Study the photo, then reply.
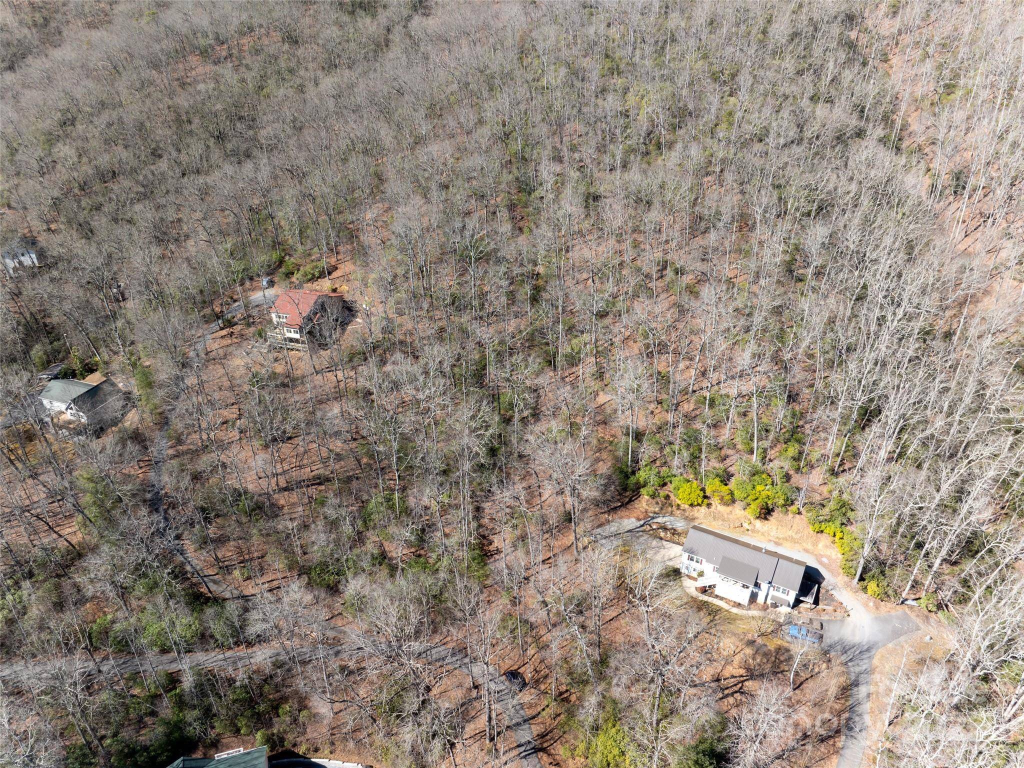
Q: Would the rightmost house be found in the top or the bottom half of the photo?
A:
bottom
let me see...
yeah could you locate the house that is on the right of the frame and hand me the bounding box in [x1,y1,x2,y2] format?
[681,523,817,615]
